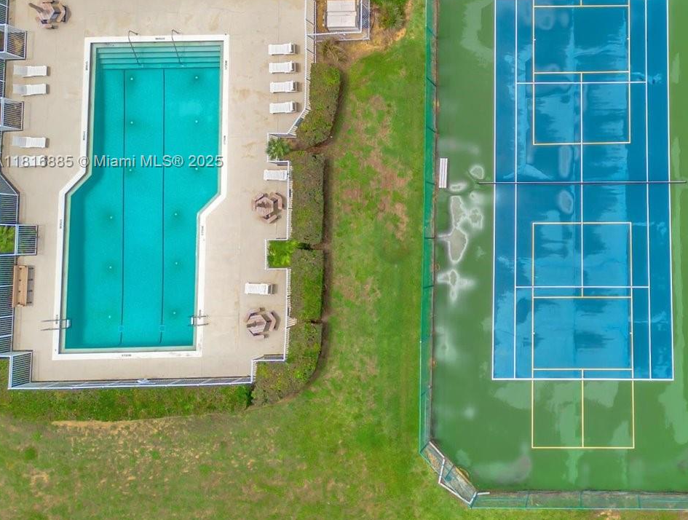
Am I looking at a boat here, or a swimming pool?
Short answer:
swimming pool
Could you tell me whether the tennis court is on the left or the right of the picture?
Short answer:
right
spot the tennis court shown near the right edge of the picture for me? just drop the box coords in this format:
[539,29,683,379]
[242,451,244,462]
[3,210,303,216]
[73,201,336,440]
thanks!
[430,0,688,495]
